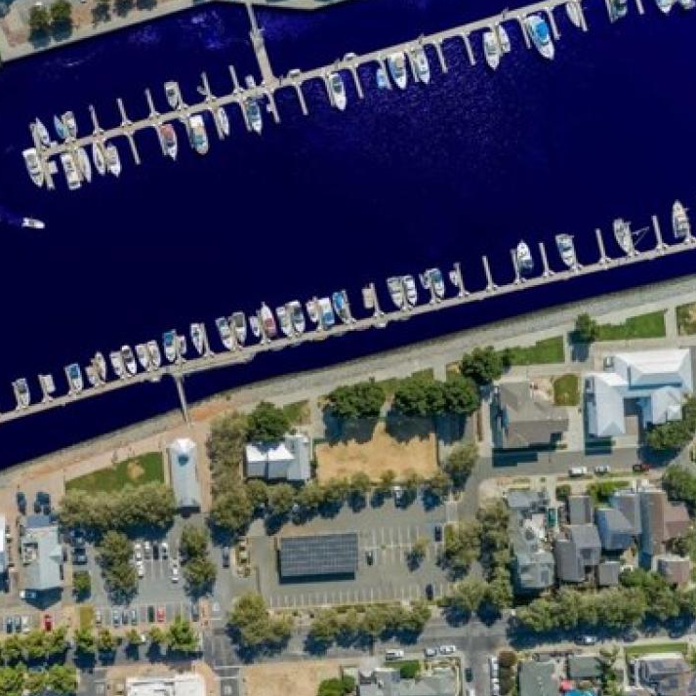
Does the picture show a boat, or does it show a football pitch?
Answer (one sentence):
The one in the frame is a boat.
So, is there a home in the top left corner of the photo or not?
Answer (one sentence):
No, no home is visible in the top left corner of the photo.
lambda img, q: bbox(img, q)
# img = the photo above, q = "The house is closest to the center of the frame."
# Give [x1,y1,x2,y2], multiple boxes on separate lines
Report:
[245,433,311,481]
